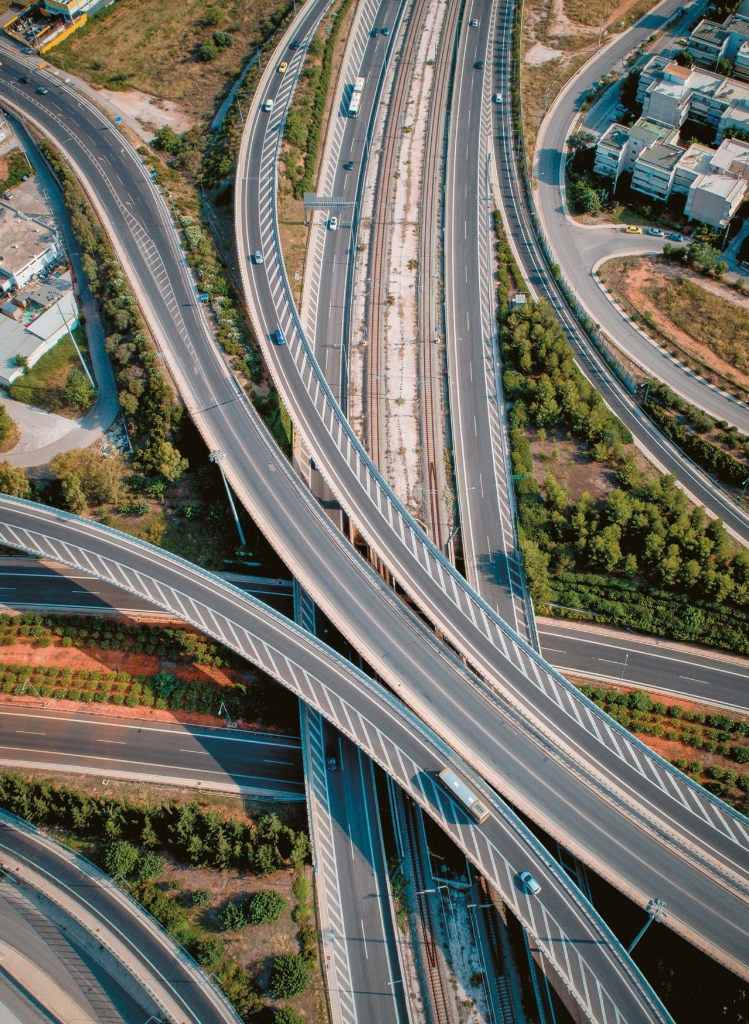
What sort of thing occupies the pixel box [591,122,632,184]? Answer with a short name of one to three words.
building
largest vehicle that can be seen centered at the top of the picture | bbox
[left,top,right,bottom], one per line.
[348,76,367,119]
